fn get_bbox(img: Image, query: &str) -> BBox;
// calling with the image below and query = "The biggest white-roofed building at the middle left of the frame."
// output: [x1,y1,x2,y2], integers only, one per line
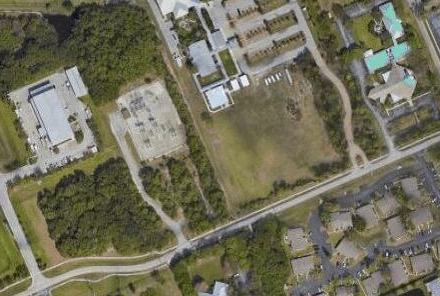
[31,88,73,146]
